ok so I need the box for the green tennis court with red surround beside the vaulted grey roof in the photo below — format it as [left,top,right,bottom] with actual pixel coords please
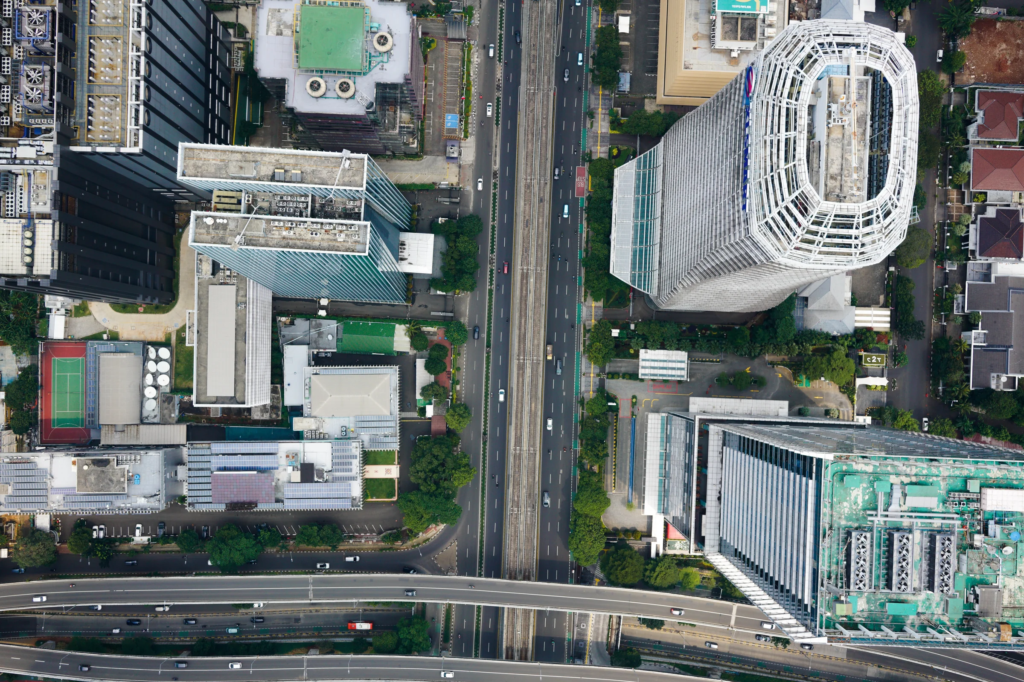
[32,342,98,444]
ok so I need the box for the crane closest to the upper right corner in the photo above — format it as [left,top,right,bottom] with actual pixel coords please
[824,49,863,195]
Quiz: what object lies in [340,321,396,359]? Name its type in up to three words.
shed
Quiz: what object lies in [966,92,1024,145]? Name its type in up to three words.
house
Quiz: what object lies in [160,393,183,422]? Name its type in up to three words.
shed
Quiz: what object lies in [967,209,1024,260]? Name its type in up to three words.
house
